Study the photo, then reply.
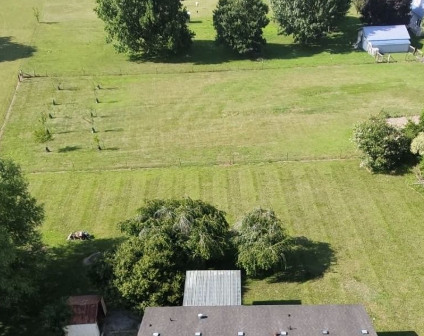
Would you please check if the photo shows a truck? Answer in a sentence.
No, the photo shows no truck.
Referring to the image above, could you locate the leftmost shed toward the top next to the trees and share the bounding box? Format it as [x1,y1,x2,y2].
[364,19,417,52]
